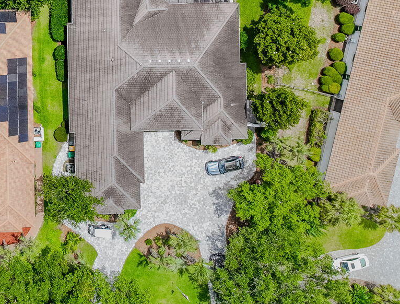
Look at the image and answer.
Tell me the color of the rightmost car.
white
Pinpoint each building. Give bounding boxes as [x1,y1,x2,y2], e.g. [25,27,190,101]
[313,0,400,207]
[0,9,36,233]
[65,0,248,215]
